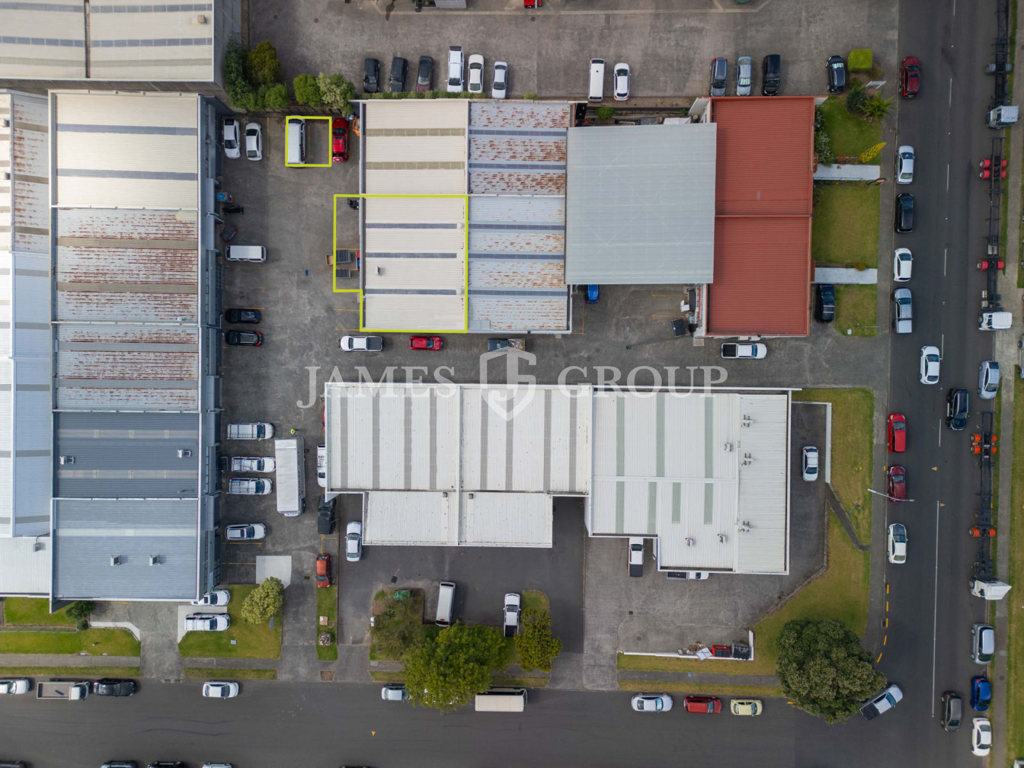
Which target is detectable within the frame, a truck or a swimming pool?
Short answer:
truck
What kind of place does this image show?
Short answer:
industrial area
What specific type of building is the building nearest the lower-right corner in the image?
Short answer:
warehouse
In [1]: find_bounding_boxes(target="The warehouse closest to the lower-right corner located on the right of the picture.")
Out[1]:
[583,385,802,575]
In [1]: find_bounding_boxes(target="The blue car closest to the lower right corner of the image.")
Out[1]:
[969,674,992,710]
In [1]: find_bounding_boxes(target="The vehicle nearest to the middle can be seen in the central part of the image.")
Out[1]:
[487,338,525,354]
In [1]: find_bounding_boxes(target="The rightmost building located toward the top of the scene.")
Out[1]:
[687,95,828,341]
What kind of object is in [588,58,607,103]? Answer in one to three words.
vehicle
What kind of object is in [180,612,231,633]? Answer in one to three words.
truck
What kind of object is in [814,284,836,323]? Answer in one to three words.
car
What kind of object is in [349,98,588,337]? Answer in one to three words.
warehouse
